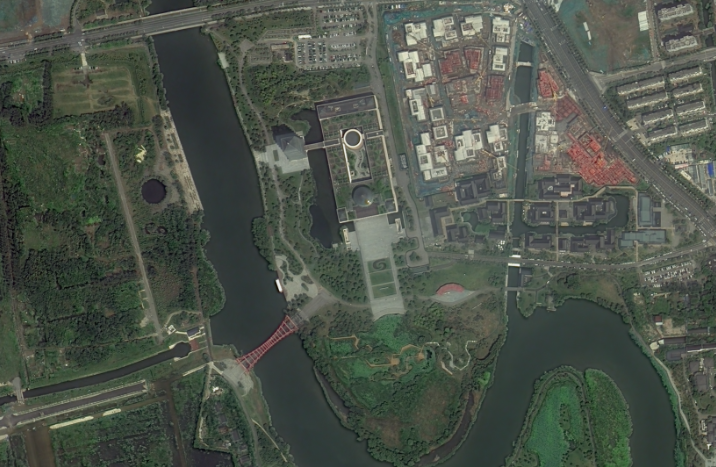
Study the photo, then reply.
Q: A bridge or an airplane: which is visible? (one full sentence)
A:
Visible in the photo is a bridge.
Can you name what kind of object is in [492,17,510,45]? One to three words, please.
building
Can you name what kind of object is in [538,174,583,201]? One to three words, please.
house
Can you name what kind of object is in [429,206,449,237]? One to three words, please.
building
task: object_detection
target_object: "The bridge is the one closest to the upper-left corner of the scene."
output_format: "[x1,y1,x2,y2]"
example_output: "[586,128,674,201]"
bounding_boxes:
[142,5,208,37]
